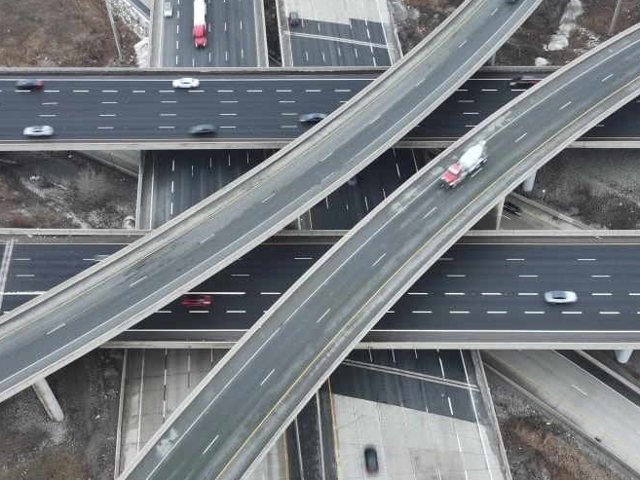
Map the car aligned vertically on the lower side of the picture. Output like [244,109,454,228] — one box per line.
[363,444,380,477]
